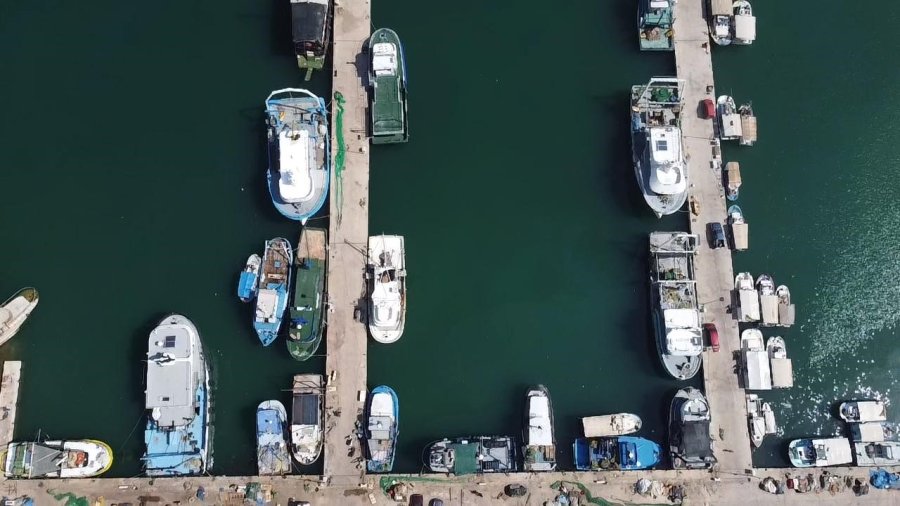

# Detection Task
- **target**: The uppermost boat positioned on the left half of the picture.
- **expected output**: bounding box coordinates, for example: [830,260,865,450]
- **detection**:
[289,0,336,81]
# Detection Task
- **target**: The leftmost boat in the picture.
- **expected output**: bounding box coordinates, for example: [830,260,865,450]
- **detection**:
[0,286,42,348]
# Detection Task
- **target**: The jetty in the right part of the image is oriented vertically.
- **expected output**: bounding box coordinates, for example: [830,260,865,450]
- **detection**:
[673,0,752,468]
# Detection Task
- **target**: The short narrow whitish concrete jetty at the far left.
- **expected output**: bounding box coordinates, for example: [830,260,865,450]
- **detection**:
[0,361,26,478]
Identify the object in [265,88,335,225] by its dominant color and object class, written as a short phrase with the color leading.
white boat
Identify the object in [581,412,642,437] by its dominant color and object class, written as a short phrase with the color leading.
white boat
